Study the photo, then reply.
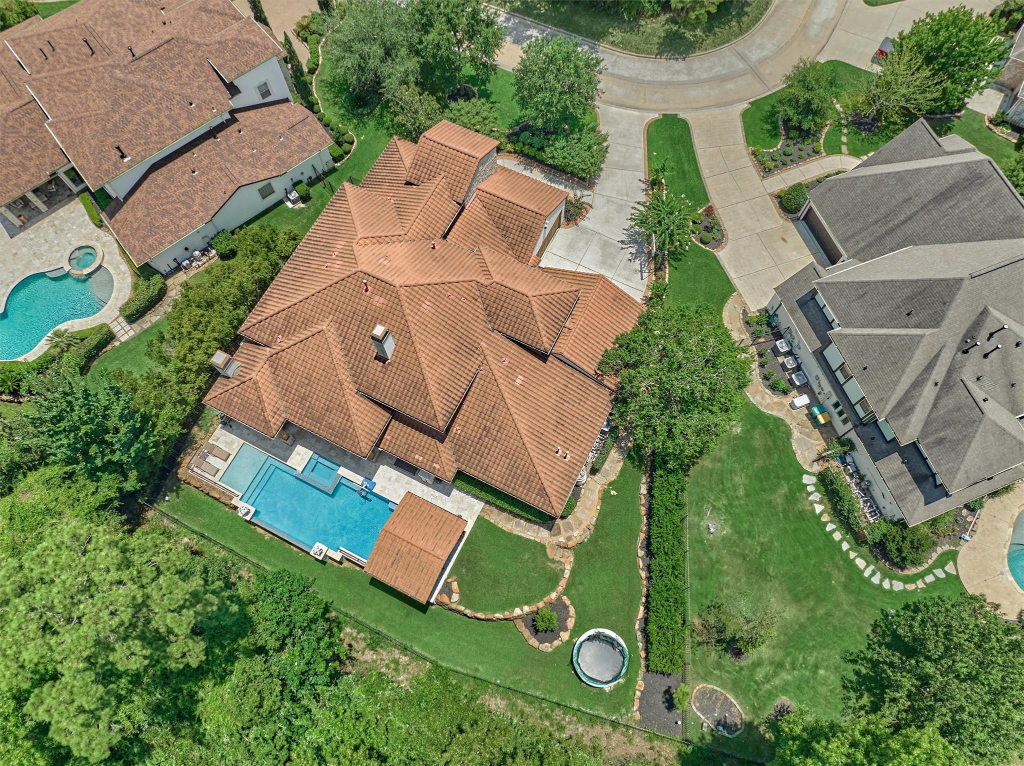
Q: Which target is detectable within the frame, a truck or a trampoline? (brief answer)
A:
trampoline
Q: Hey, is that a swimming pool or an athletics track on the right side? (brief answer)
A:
swimming pool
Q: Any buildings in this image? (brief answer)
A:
Yes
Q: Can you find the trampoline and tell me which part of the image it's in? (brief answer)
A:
bottom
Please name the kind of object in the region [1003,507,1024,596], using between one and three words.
swimming pool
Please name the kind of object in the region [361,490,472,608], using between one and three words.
building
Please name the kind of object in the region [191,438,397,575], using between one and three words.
swimming pool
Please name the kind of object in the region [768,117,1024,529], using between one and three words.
house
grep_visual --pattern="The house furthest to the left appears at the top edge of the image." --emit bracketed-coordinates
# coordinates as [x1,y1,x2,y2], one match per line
[0,0,334,277]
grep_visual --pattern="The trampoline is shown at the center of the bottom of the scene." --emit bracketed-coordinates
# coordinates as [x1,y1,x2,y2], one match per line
[572,627,629,687]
